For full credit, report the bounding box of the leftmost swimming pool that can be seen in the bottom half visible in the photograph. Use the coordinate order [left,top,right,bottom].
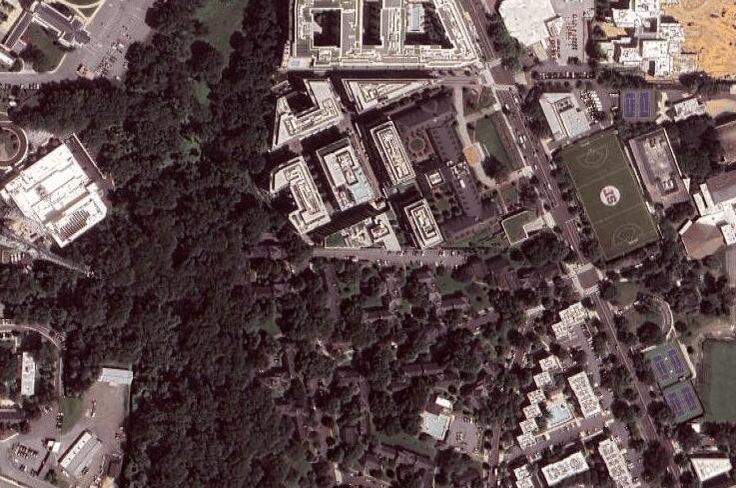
[420,412,450,440]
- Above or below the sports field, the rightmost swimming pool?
below it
